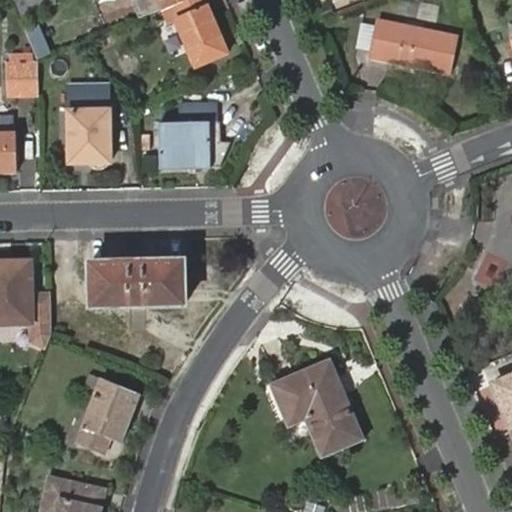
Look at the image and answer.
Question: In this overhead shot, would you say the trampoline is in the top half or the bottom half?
top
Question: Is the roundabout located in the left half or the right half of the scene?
right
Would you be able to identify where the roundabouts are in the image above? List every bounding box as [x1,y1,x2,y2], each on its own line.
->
[272,123,432,293]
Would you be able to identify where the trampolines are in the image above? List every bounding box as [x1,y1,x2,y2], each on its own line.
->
[49,57,70,78]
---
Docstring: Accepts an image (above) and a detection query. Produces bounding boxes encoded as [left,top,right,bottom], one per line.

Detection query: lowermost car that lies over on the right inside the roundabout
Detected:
[312,162,335,179]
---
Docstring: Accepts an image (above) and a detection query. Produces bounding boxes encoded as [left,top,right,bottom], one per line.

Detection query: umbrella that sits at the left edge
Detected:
[14,332,28,346]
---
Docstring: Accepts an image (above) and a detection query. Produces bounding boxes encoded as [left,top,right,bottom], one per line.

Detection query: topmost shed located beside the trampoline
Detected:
[26,25,50,58]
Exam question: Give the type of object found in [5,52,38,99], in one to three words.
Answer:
house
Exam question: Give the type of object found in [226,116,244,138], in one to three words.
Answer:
car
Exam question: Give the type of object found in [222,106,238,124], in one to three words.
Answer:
car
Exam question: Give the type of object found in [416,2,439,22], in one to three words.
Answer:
shed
